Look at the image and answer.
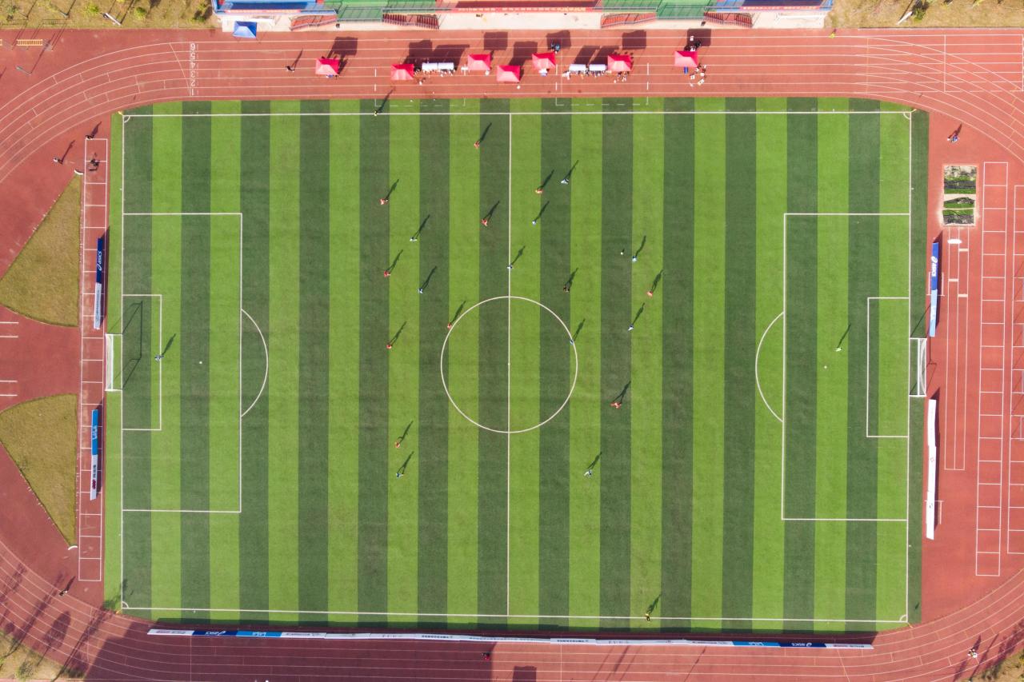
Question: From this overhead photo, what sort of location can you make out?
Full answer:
The picture captures a sports ground.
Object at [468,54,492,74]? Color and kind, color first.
red tent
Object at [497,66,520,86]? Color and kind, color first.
red tent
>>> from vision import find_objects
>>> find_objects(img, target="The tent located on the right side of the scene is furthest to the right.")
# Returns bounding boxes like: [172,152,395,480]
[672,51,698,71]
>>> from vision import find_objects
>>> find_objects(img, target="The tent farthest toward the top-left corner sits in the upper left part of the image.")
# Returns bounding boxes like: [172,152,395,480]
[234,21,261,42]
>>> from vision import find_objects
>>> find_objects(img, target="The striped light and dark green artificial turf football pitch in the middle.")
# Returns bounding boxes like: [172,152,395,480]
[104,64,929,637]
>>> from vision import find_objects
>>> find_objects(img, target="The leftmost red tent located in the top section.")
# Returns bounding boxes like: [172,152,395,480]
[316,59,342,79]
